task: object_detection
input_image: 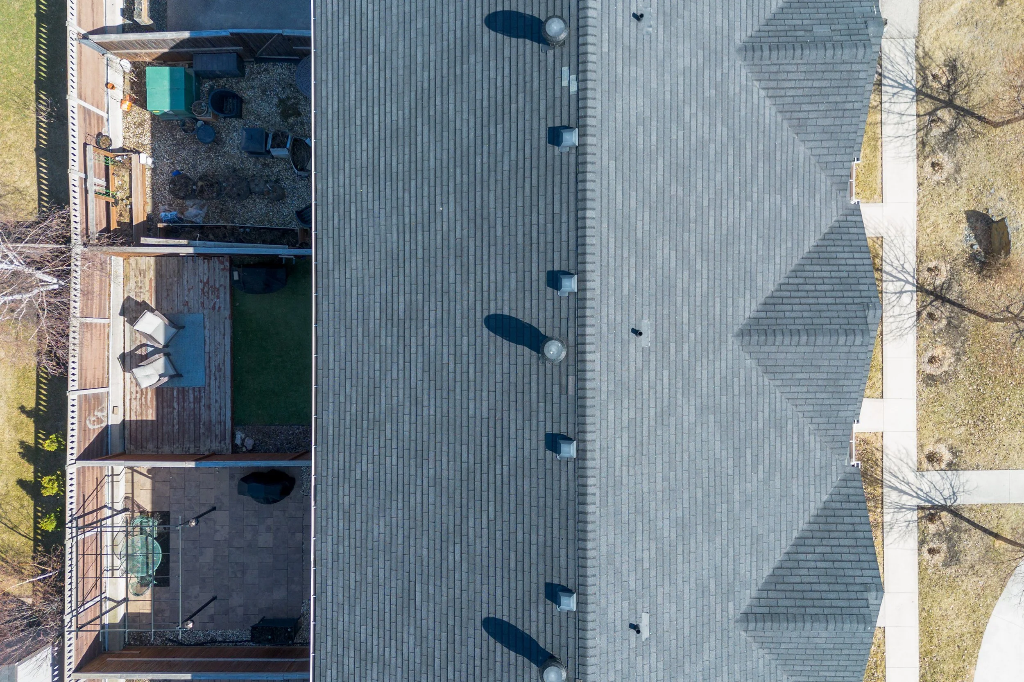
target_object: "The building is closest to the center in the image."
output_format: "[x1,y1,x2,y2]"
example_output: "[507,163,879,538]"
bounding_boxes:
[311,0,882,682]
